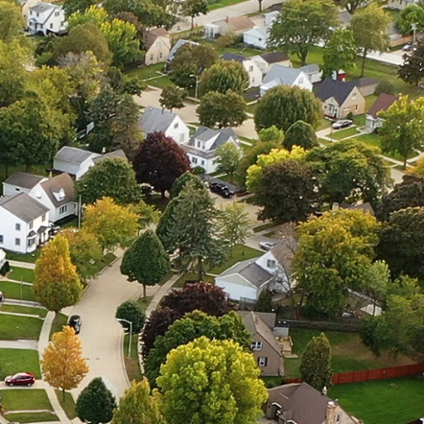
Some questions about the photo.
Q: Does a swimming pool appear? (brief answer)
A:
No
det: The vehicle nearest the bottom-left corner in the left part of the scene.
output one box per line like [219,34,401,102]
[5,367,38,384]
